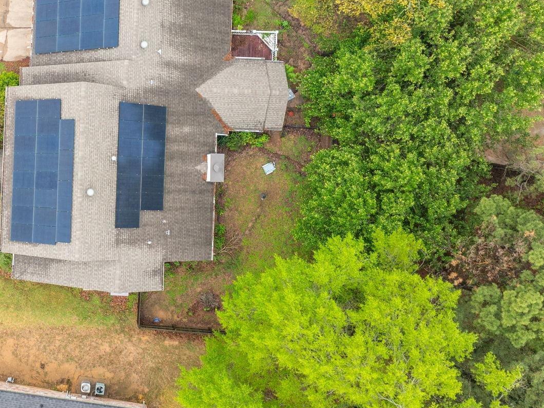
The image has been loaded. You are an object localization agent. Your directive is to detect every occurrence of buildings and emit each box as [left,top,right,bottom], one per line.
[0,377,155,408]
[0,0,287,295]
